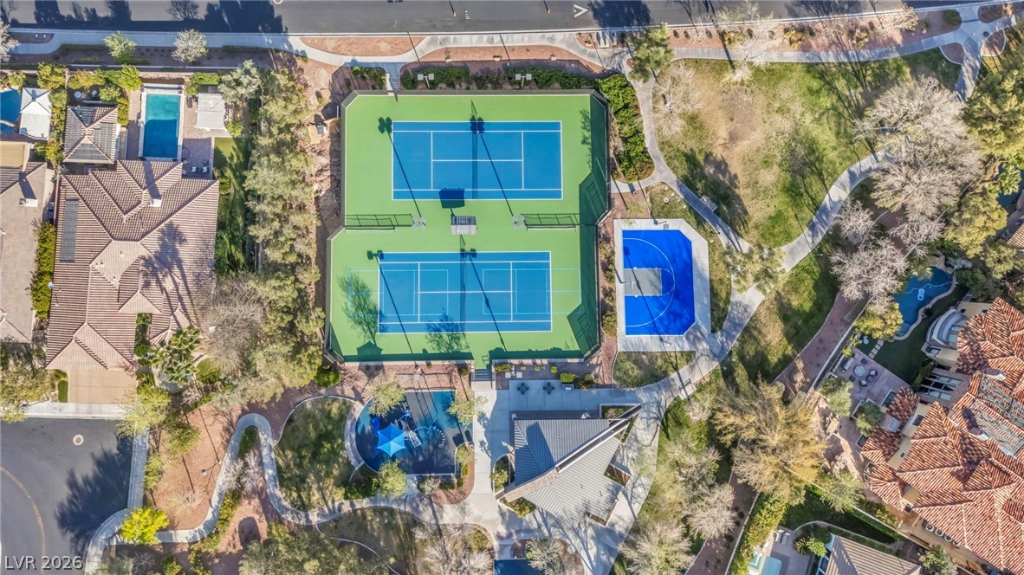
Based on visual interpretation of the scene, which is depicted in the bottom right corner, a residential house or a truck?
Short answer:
residential house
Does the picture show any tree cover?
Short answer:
Yes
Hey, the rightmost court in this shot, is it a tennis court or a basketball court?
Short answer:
basketball court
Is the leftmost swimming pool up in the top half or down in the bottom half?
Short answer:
top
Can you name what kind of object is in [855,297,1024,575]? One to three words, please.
house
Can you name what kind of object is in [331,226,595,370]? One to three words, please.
tennis court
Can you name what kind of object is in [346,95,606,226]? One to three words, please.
tennis court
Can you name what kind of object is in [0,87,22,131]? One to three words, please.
swimming pool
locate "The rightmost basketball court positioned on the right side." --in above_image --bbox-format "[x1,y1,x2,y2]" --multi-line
[614,219,714,351]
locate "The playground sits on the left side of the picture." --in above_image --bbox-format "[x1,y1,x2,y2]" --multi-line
[344,390,457,477]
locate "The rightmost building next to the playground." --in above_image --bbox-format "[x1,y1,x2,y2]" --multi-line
[503,404,641,528]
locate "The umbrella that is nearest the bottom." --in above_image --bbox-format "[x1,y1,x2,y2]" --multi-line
[376,422,406,456]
